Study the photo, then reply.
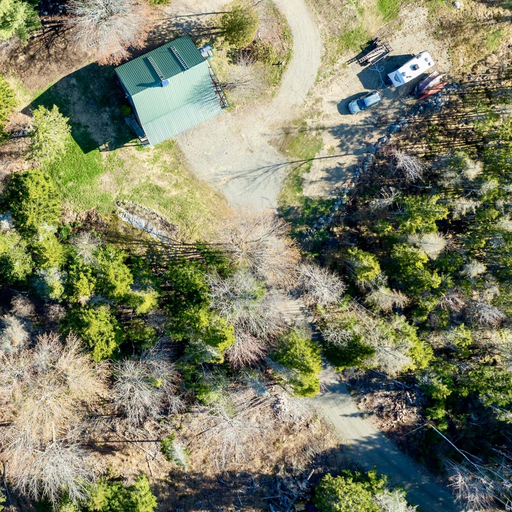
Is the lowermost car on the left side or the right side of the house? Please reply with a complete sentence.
You can see the lowermost car positioned to the right of the house.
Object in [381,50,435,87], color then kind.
white trailer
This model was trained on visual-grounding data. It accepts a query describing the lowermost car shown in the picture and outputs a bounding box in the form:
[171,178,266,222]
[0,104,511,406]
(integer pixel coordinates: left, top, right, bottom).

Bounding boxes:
[348,91,381,113]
